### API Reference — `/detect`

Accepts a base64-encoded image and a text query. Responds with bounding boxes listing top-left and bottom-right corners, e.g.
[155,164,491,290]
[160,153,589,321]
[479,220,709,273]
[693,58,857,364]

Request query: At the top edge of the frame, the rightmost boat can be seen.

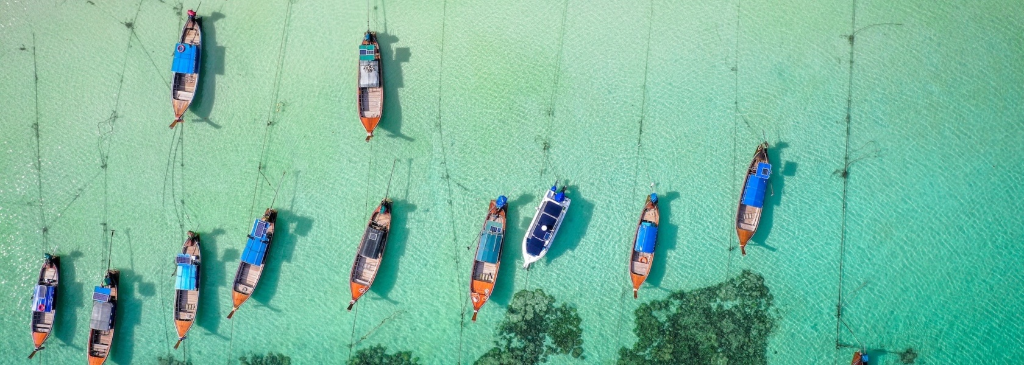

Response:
[356,0,383,142]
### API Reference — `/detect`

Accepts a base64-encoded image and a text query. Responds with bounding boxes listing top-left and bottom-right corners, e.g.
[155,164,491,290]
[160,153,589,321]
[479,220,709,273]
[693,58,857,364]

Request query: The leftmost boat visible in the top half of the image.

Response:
[168,1,206,129]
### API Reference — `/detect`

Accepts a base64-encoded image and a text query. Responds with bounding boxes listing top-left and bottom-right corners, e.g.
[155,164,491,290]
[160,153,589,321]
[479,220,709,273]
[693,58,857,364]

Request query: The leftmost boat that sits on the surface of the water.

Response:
[27,246,65,359]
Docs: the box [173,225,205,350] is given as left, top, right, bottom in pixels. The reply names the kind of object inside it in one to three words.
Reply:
boat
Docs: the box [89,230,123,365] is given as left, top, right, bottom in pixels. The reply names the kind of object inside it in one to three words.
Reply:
boat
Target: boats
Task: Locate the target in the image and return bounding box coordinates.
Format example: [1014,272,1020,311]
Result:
[628,188,659,300]
[173,225,205,350]
[521,179,571,273]
[89,230,123,365]
[356,0,383,142]
[735,130,771,256]
[226,171,287,319]
[168,1,206,129]
[27,246,65,359]
[469,190,515,323]
[347,161,395,312]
